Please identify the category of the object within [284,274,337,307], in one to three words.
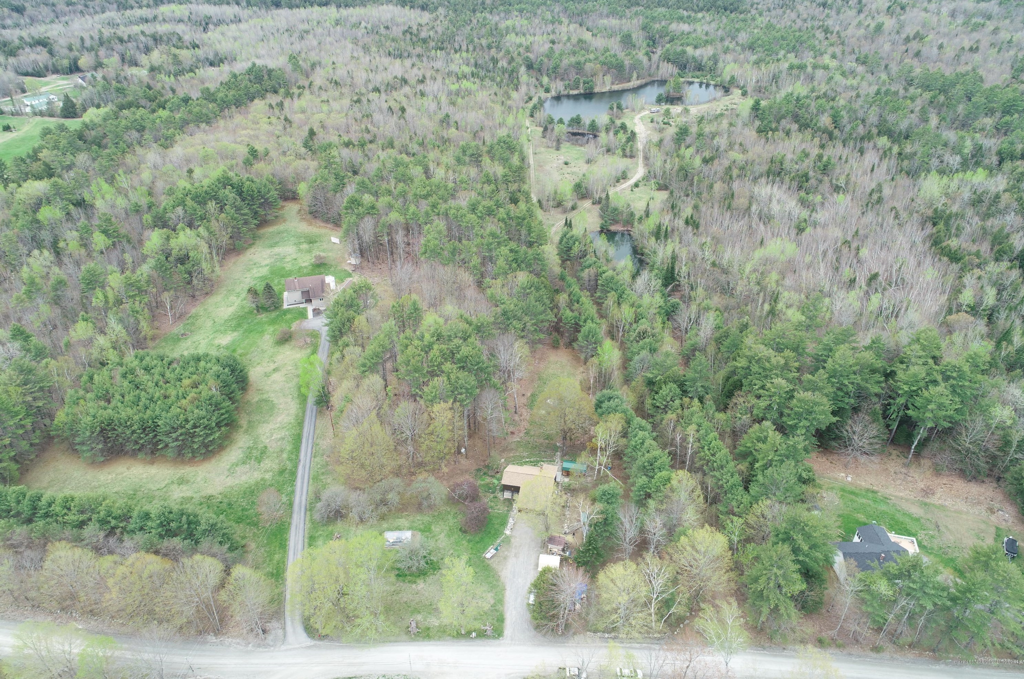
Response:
house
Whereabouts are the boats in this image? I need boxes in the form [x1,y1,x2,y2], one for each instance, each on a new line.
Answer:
[1006,536,1018,557]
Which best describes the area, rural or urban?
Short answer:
rural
